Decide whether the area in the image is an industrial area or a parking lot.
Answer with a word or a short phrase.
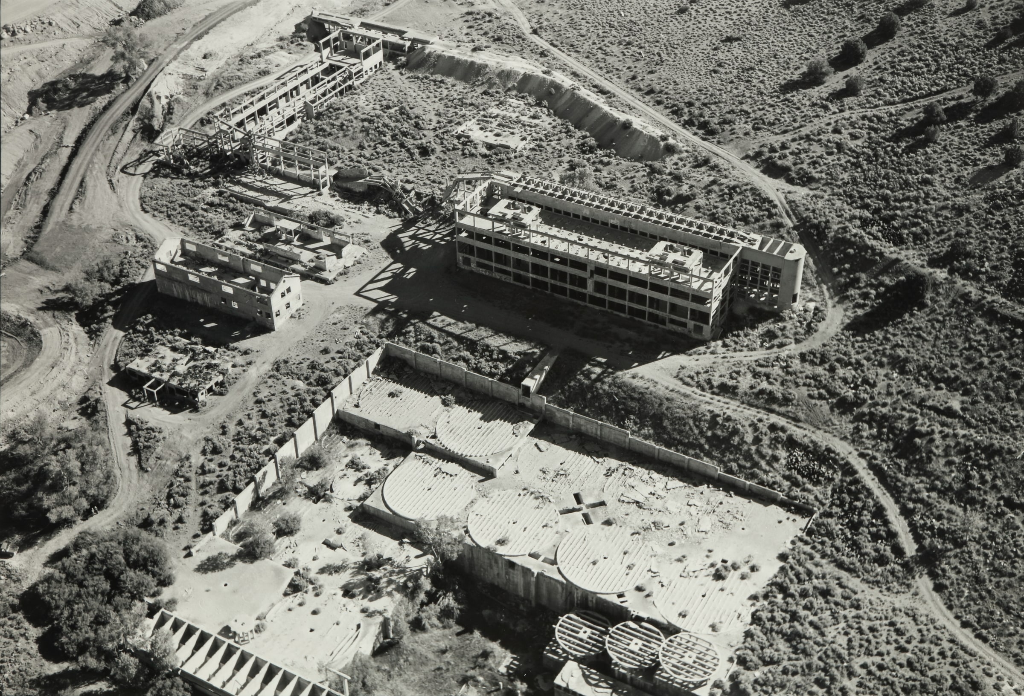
industrial area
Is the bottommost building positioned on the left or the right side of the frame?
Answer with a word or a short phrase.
left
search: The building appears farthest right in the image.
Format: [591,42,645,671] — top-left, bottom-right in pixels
[455,173,805,338]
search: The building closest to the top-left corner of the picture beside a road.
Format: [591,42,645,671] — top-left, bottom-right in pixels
[150,127,224,168]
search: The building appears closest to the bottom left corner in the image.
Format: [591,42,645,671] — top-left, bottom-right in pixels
[126,346,225,407]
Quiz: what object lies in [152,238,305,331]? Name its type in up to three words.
building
